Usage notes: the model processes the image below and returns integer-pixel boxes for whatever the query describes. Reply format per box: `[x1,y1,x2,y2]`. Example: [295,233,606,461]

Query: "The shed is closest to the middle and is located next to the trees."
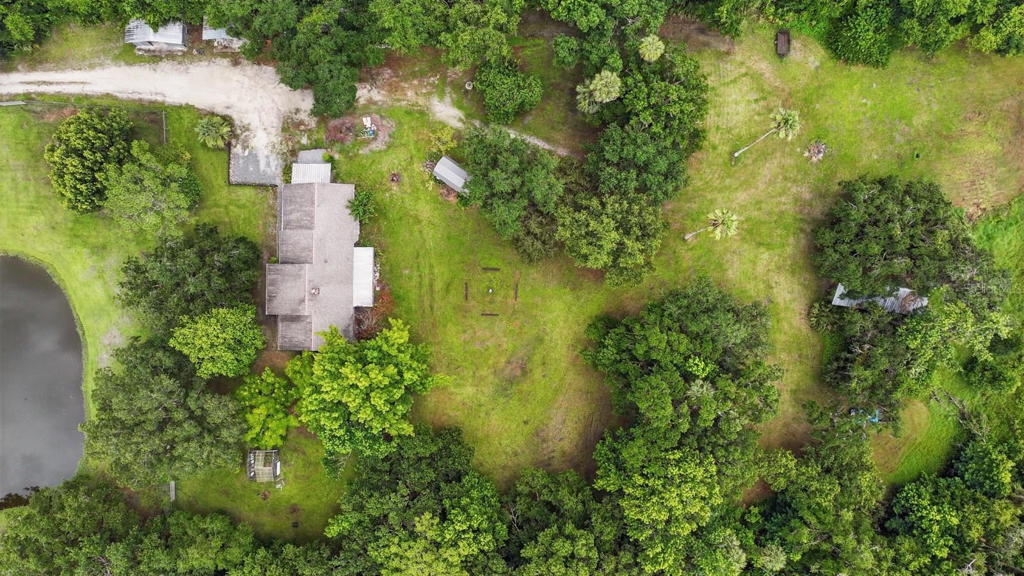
[430,157,469,194]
